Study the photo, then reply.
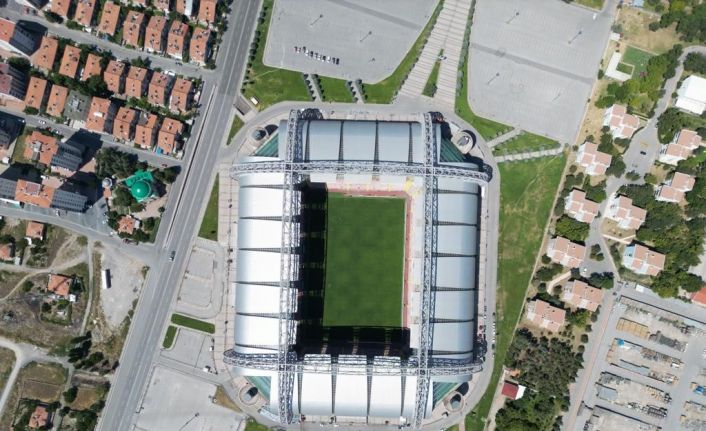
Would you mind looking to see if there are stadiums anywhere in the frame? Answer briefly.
Yes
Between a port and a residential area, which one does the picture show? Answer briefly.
residential area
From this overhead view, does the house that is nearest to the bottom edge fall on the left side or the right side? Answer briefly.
left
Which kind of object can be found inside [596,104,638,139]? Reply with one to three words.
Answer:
house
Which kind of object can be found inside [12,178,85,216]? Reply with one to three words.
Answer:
building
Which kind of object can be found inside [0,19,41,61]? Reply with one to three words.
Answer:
building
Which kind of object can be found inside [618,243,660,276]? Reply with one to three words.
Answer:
house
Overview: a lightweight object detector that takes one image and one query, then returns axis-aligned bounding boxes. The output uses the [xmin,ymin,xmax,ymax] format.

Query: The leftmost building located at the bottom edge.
[28,403,54,429]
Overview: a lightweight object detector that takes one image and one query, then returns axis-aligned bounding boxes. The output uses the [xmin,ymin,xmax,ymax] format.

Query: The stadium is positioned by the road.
[223,108,490,429]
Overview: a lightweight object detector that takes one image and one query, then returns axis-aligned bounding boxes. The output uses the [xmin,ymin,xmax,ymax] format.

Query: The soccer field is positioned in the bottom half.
[302,188,411,348]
